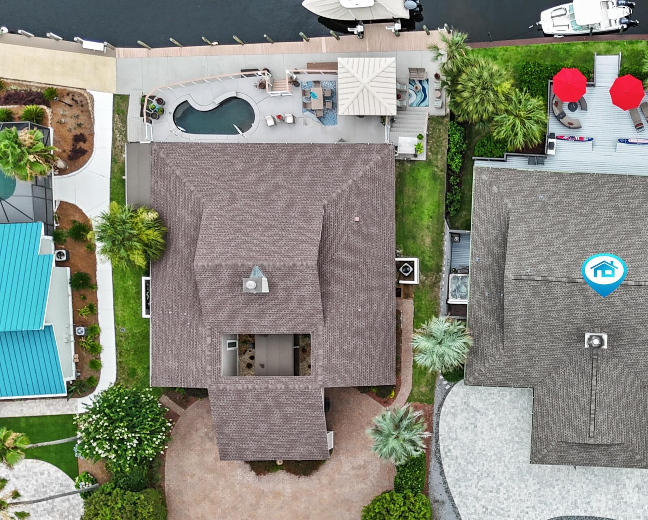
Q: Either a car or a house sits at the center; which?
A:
house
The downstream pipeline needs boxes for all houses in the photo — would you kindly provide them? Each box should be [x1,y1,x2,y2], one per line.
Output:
[463,164,648,470]
[125,142,397,461]
[0,221,81,400]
